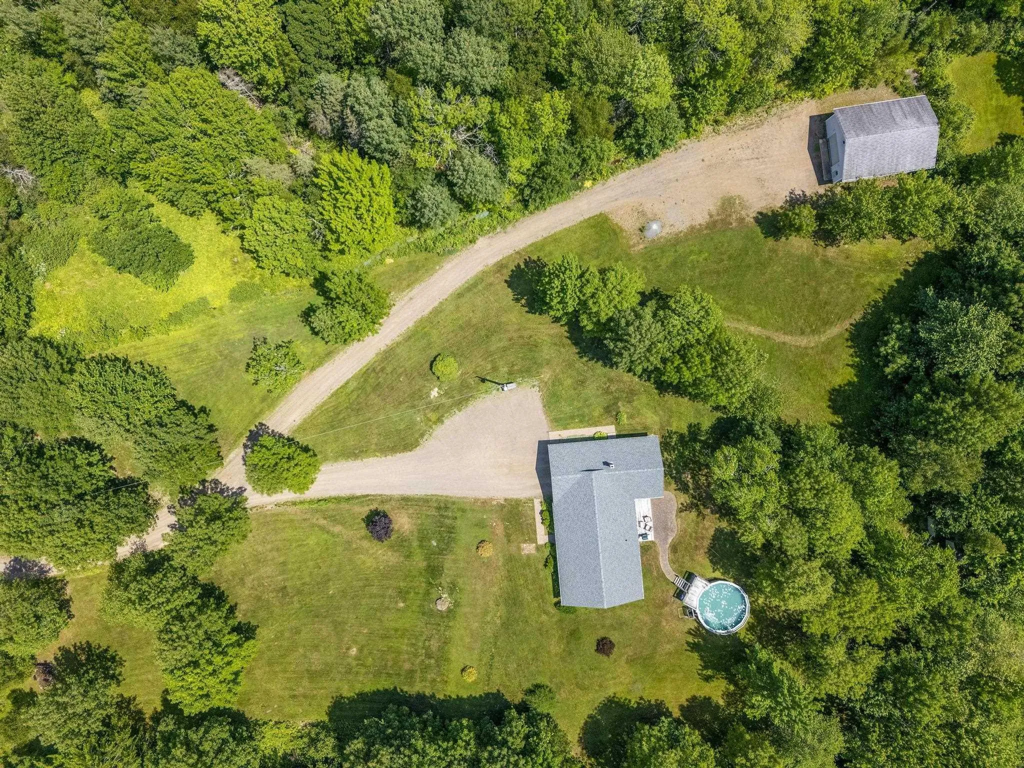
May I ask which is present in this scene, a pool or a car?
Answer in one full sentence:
The image shows a pool.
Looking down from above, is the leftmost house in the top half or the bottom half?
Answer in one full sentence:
It is in the bottom half that the leftmost house appears.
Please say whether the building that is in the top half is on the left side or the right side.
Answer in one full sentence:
You can find the building that is in the top half on the right side of the picture.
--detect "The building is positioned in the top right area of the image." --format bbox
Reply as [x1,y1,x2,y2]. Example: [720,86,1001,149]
[826,94,943,185]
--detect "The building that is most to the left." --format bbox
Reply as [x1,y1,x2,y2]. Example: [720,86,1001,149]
[548,434,664,609]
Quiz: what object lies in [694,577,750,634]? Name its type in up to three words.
swimming pool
